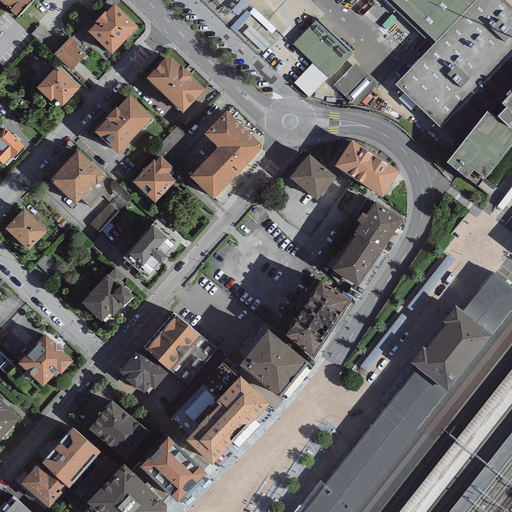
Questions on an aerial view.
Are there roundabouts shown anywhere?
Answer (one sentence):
Yes, the image includes a roundabout.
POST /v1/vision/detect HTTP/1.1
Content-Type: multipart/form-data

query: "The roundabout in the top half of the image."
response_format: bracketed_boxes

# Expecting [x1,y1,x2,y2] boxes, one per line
[265,96,316,146]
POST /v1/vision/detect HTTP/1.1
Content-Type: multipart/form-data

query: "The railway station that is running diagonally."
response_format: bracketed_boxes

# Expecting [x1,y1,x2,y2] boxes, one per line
[305,274,512,512]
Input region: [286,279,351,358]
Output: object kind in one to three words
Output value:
building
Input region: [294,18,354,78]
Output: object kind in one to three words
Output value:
building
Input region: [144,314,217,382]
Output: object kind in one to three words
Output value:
house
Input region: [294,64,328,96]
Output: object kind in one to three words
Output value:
shed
